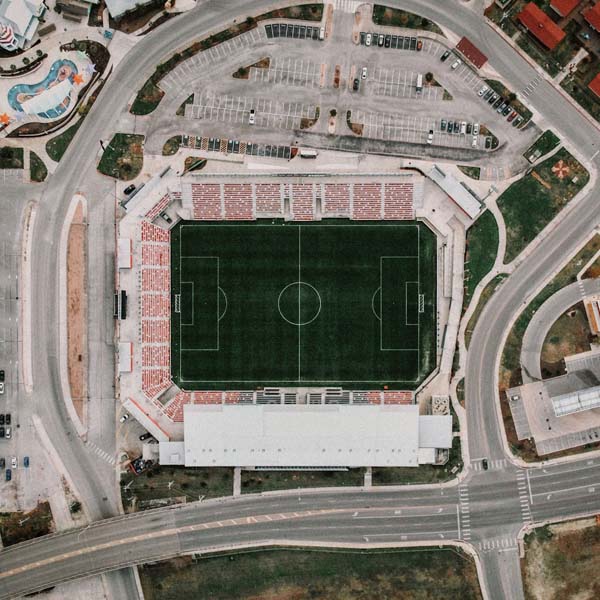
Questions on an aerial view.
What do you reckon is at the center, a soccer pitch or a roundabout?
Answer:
soccer pitch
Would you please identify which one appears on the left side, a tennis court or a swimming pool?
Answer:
swimming pool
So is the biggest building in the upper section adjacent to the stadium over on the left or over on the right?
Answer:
right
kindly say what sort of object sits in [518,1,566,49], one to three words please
house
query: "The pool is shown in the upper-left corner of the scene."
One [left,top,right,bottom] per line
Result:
[8,59,78,119]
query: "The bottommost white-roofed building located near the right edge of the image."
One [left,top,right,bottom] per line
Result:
[551,384,600,417]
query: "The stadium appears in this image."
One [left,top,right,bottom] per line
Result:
[141,173,452,471]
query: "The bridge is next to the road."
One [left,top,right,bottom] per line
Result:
[0,504,177,600]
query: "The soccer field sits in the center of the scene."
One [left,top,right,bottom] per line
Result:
[171,219,437,391]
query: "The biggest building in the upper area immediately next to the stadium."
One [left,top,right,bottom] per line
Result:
[429,164,484,220]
